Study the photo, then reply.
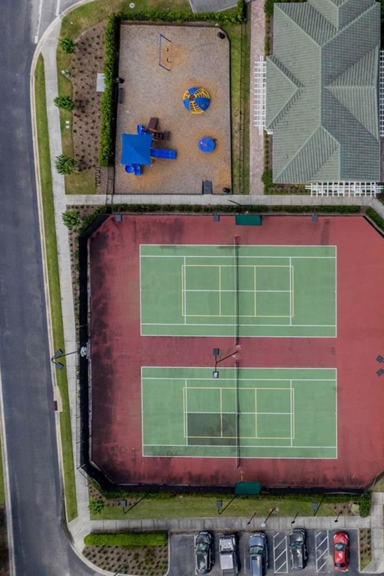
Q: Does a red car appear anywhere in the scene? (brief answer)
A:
Yes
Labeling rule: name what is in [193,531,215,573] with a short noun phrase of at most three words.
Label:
car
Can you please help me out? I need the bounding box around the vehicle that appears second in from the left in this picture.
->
[218,531,239,576]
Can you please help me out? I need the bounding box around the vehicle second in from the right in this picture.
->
[287,527,309,569]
